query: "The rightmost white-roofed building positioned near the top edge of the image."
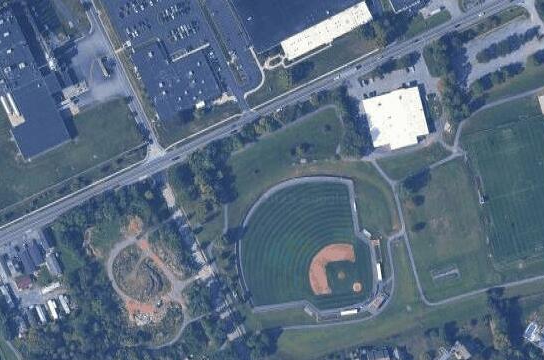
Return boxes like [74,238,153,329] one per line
[281,1,372,60]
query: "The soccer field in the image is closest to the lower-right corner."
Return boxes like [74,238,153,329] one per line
[475,124,544,260]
